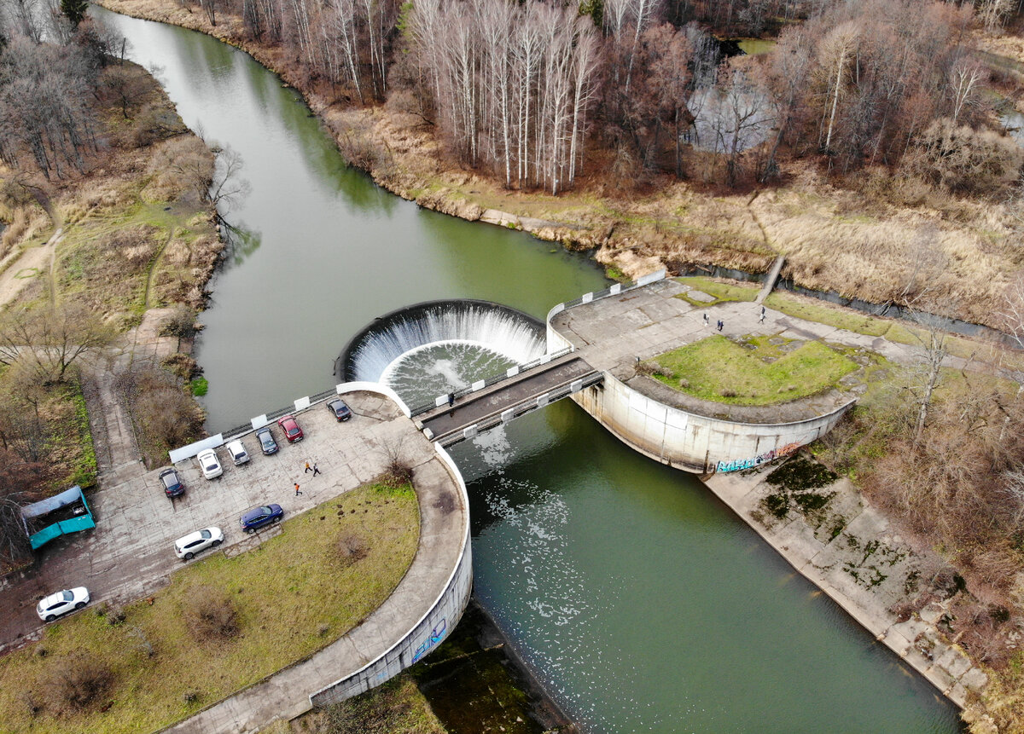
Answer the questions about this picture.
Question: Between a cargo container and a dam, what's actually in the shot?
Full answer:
There is a dam in the scene.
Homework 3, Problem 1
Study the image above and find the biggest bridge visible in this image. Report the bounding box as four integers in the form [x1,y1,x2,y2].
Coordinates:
[401,350,605,452]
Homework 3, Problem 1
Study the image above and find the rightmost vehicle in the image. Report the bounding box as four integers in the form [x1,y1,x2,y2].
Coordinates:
[325,396,353,418]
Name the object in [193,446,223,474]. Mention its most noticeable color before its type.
white car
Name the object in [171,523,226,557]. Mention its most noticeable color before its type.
white car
